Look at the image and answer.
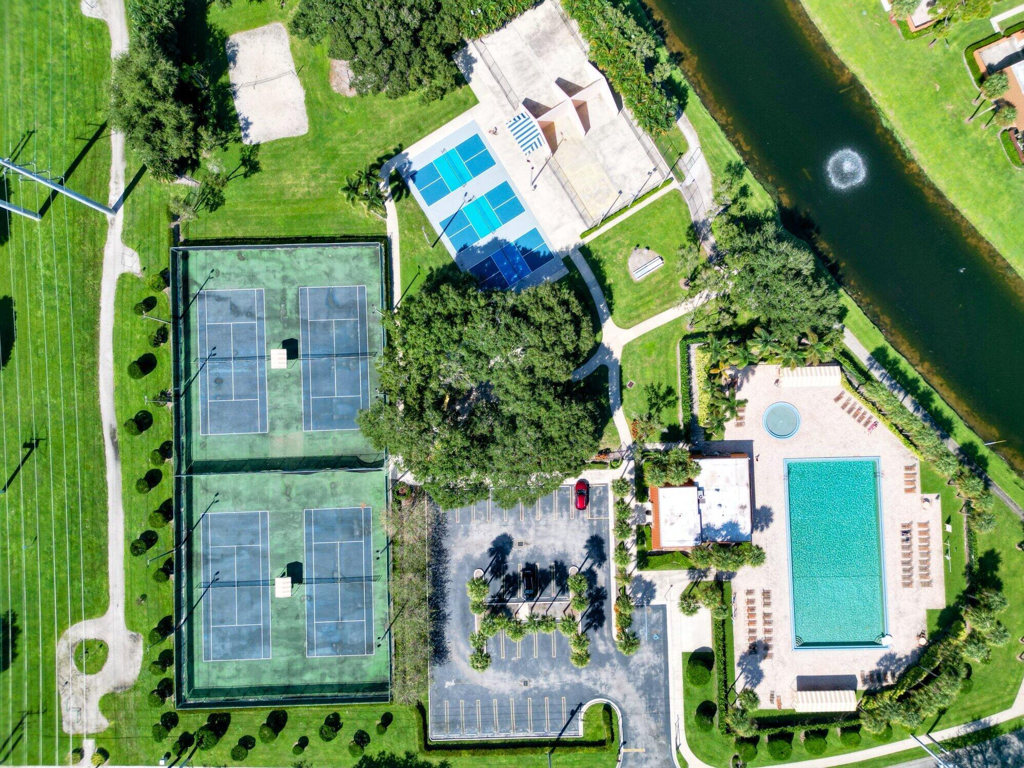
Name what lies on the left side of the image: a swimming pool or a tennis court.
tennis court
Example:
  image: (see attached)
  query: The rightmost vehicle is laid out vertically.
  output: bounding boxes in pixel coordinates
[575,480,590,511]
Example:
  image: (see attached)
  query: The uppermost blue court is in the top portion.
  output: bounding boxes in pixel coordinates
[409,133,496,207]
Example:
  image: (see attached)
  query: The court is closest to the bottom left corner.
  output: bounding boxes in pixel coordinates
[193,511,276,662]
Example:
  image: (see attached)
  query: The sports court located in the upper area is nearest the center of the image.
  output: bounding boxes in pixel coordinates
[468,227,555,289]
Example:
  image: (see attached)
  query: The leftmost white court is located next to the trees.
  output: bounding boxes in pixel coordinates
[225,22,309,145]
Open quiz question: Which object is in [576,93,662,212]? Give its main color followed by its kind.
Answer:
white sports court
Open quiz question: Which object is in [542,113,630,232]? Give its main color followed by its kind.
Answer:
white sports court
